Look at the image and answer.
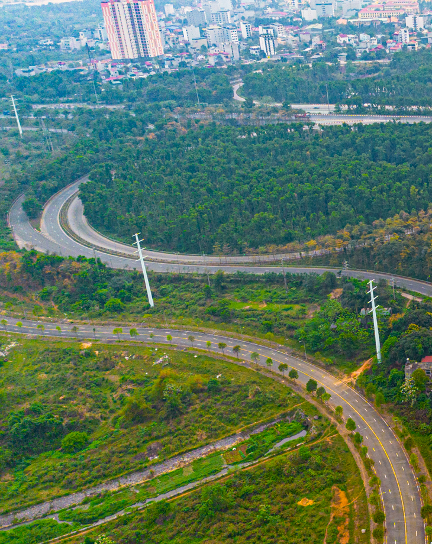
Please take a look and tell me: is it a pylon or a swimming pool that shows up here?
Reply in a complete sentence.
It is a pylon that can be seen here.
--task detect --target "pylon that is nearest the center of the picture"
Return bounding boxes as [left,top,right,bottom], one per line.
[132,232,157,306]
